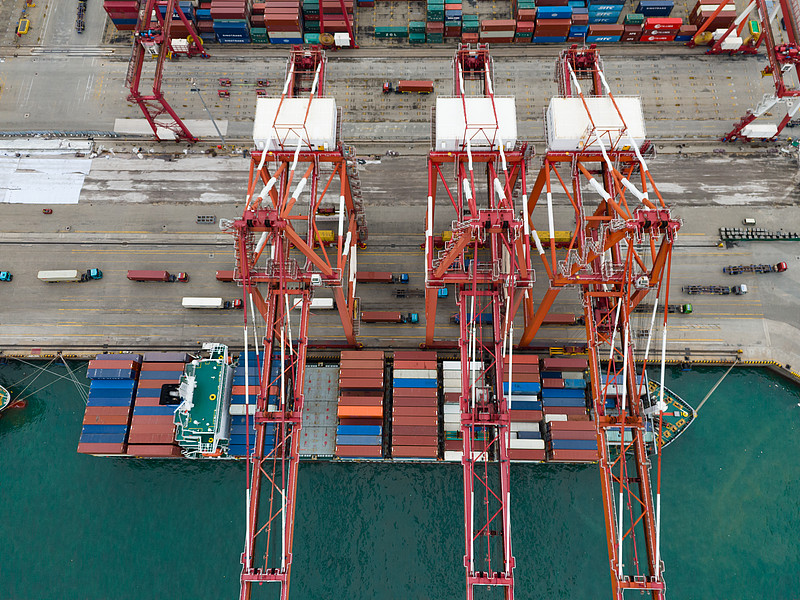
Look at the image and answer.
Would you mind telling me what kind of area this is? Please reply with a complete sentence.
What you see here is a port.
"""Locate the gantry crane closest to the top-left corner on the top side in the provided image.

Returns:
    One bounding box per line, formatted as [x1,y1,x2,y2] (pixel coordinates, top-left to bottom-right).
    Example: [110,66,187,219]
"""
[132,0,209,141]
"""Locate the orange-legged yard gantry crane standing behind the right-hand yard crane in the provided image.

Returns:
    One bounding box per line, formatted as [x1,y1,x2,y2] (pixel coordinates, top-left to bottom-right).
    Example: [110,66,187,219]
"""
[686,0,761,48]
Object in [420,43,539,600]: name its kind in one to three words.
container crane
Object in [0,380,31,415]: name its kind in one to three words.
ship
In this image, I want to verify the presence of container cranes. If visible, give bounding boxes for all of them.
[704,0,800,141]
[686,0,761,48]
[132,0,209,141]
[512,43,684,600]
[212,43,370,600]
[420,43,539,600]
